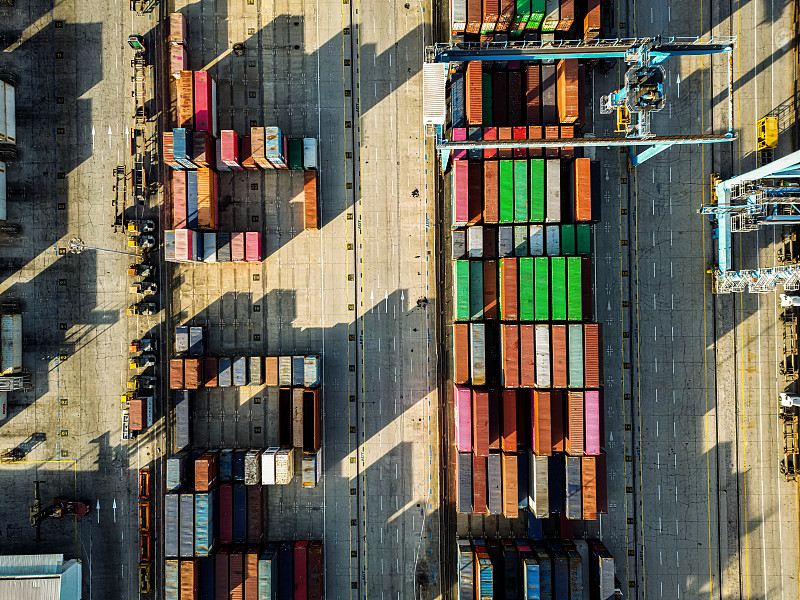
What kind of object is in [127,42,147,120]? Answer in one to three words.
vehicle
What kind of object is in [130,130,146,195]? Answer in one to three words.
trailer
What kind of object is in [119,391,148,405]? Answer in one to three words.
work vehicle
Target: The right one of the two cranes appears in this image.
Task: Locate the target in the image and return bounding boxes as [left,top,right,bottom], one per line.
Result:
[695,162,800,295]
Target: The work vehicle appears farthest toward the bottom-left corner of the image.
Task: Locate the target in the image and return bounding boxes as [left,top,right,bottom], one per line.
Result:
[21,482,86,537]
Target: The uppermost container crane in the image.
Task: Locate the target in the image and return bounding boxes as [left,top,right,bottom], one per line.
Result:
[424,33,737,180]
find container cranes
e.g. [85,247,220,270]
[424,33,737,180]
[695,162,800,295]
